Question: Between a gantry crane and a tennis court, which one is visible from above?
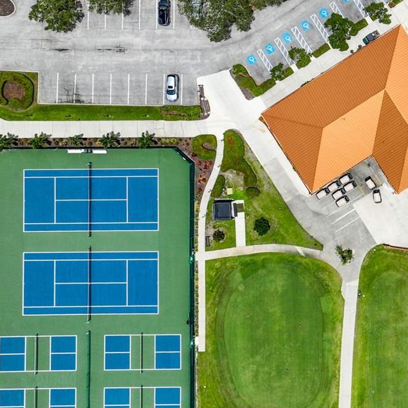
tennis court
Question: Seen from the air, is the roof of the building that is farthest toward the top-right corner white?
No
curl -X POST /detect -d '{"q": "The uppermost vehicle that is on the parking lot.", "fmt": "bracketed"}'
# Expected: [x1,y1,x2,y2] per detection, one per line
[157,0,171,26]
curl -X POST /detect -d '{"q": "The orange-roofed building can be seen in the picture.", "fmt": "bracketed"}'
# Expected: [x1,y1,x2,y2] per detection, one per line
[261,24,408,194]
